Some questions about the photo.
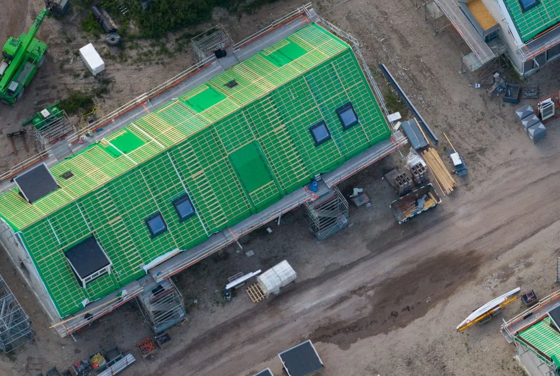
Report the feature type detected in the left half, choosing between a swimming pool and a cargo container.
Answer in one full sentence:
Visible in the left half is a cargo container.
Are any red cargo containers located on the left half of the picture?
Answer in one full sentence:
No, no red cargo container is visible on the left half of the picture.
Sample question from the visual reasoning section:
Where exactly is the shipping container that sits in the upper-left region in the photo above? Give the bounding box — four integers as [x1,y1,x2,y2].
[78,44,106,76]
